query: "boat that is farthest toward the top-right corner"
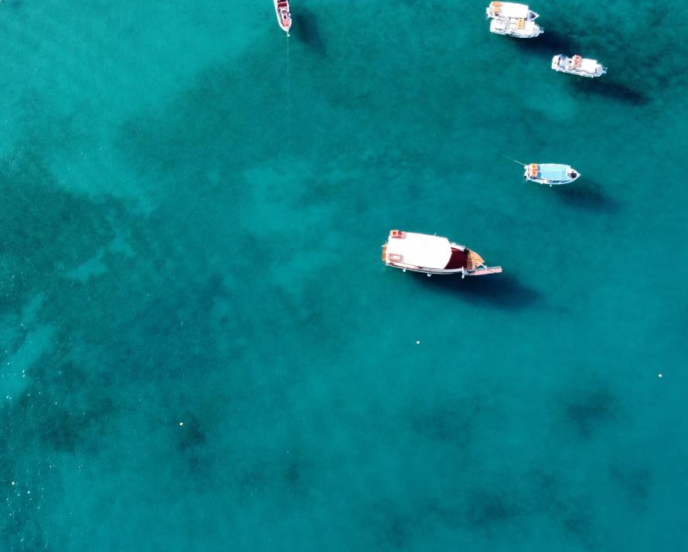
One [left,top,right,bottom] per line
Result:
[551,56,609,77]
